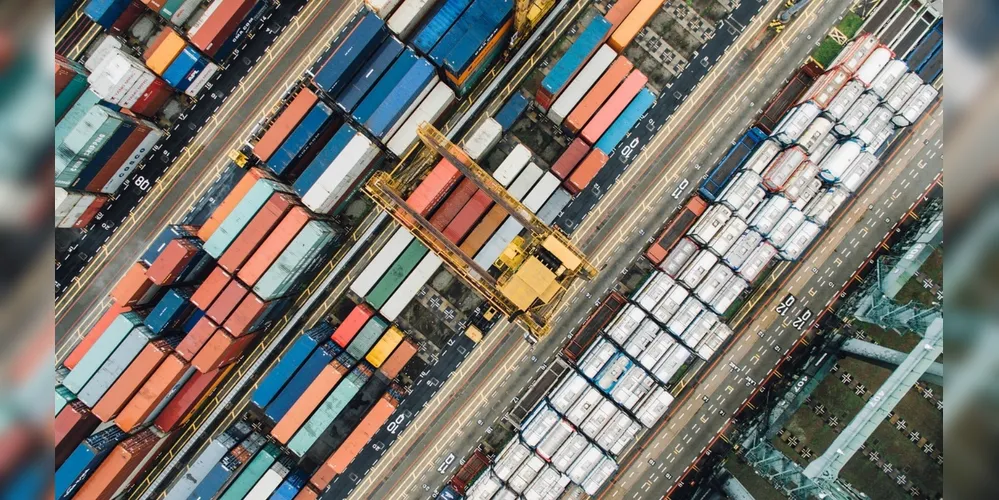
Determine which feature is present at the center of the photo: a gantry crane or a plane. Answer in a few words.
gantry crane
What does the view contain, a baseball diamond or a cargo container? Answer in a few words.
cargo container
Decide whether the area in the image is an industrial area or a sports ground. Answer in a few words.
industrial area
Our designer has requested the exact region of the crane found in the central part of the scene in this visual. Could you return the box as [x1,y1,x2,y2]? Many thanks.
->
[361,115,601,339]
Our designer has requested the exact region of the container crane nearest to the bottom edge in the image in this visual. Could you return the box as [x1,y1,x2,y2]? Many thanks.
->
[677,455,750,500]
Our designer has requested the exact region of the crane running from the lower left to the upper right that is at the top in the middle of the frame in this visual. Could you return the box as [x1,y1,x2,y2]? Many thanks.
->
[502,0,561,61]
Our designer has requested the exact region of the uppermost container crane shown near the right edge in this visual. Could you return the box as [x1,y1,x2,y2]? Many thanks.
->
[843,186,999,364]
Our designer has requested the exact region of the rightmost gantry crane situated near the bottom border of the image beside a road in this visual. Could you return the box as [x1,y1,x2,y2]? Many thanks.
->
[735,319,999,500]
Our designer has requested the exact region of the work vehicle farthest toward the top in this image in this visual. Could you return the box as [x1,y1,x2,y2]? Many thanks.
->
[220,92,295,182]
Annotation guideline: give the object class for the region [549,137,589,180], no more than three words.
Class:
shipping container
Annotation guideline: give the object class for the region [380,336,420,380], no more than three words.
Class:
shipping container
